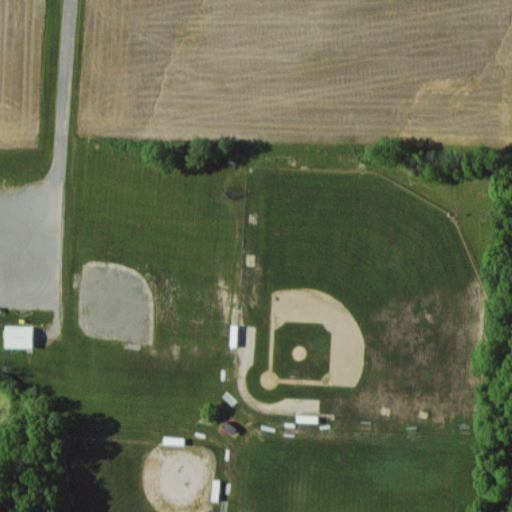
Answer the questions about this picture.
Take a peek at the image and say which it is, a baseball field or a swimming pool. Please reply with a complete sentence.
The image shows a baseball field.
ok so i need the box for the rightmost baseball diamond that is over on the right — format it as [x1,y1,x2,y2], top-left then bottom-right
[238,168,486,421]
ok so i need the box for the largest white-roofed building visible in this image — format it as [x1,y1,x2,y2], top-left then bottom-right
[4,326,33,353]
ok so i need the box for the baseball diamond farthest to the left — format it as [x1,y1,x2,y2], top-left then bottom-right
[79,262,154,350]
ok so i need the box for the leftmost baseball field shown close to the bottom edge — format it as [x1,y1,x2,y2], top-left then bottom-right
[143,444,216,512]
